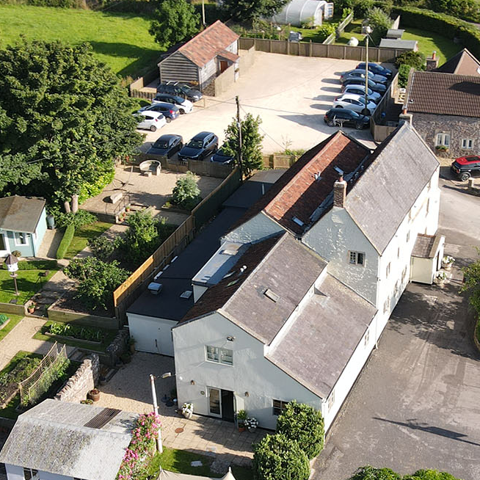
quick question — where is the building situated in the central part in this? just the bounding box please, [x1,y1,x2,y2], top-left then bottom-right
[125,103,453,449]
